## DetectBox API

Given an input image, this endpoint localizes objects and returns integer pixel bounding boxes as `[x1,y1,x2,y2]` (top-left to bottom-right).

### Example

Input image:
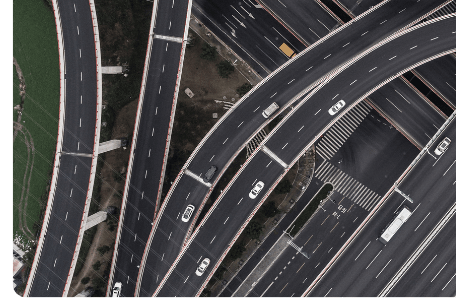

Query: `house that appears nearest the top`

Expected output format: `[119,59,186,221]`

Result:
[0,255,31,285]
